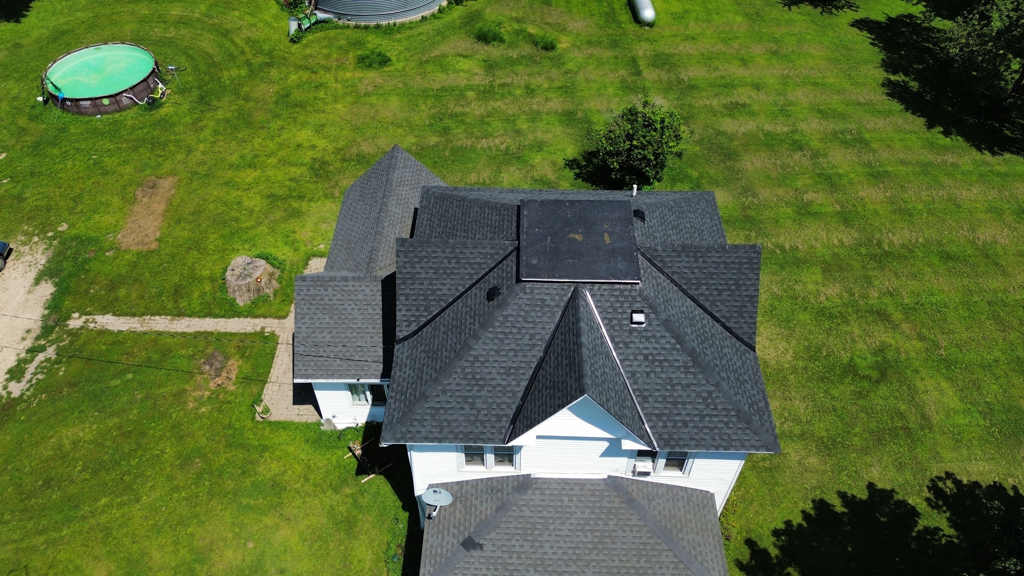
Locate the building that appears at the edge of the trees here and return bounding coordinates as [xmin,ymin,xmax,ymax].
[293,145,783,576]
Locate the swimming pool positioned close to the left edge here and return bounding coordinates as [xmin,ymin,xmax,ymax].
[41,41,161,115]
